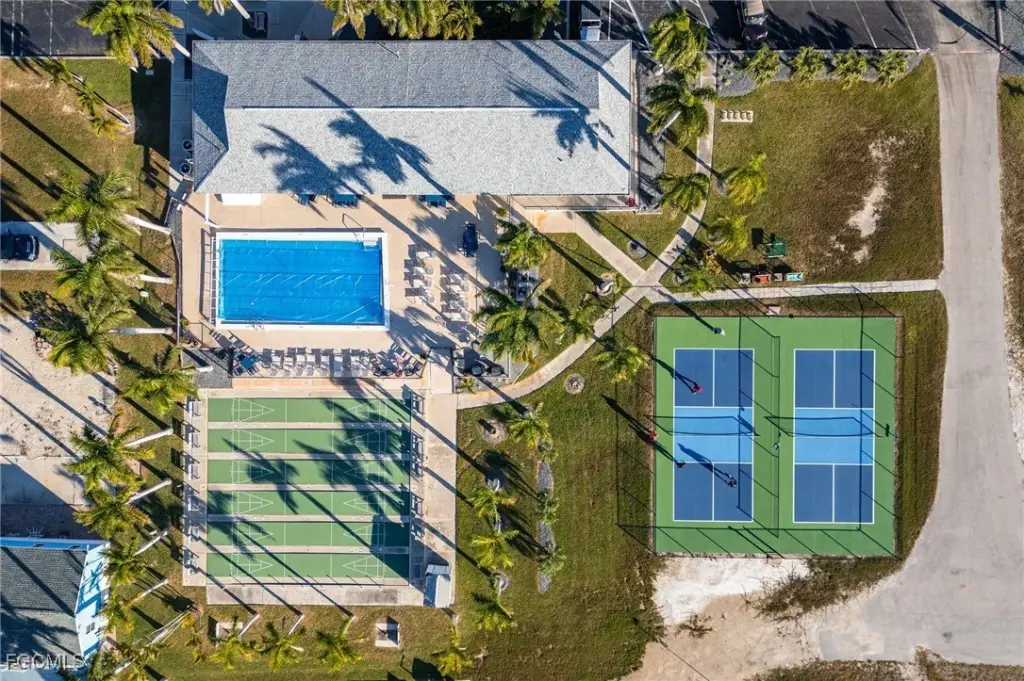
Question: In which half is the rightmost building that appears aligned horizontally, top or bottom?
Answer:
top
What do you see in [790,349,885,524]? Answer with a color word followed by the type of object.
blue sports court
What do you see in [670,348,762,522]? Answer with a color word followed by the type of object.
blue sports court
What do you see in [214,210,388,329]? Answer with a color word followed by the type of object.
blue swimming pool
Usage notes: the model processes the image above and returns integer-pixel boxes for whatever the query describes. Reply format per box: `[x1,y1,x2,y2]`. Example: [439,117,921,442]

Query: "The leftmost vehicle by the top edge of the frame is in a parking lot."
[579,0,609,39]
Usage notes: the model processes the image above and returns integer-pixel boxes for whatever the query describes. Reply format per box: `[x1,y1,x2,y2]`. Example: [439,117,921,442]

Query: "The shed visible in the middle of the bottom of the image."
[424,558,451,611]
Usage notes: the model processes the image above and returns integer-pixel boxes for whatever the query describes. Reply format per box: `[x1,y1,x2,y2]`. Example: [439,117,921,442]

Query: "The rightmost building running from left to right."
[192,39,663,214]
